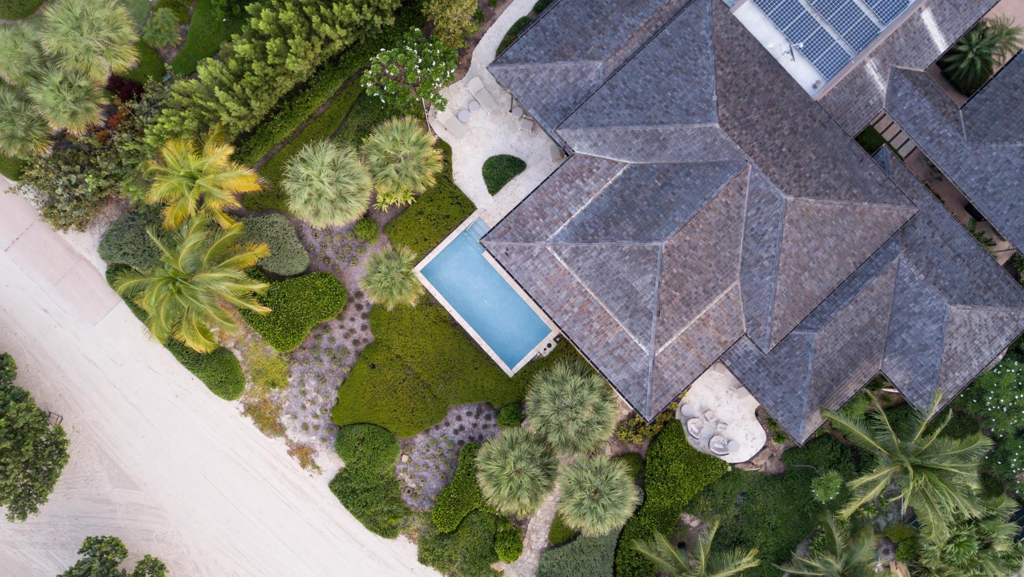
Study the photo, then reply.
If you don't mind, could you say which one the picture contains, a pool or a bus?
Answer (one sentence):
Of the two, only a pool appears.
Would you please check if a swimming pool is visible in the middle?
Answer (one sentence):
Yes, a swimming pool can be seen in the middle.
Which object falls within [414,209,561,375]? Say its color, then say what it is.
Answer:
blue swimming pool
